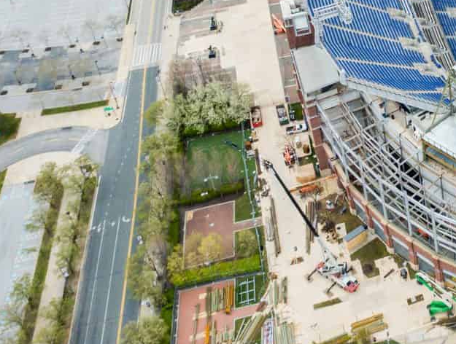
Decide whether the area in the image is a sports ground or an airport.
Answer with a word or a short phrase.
sports ground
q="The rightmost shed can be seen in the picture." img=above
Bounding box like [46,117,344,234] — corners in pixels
[331,219,376,251]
